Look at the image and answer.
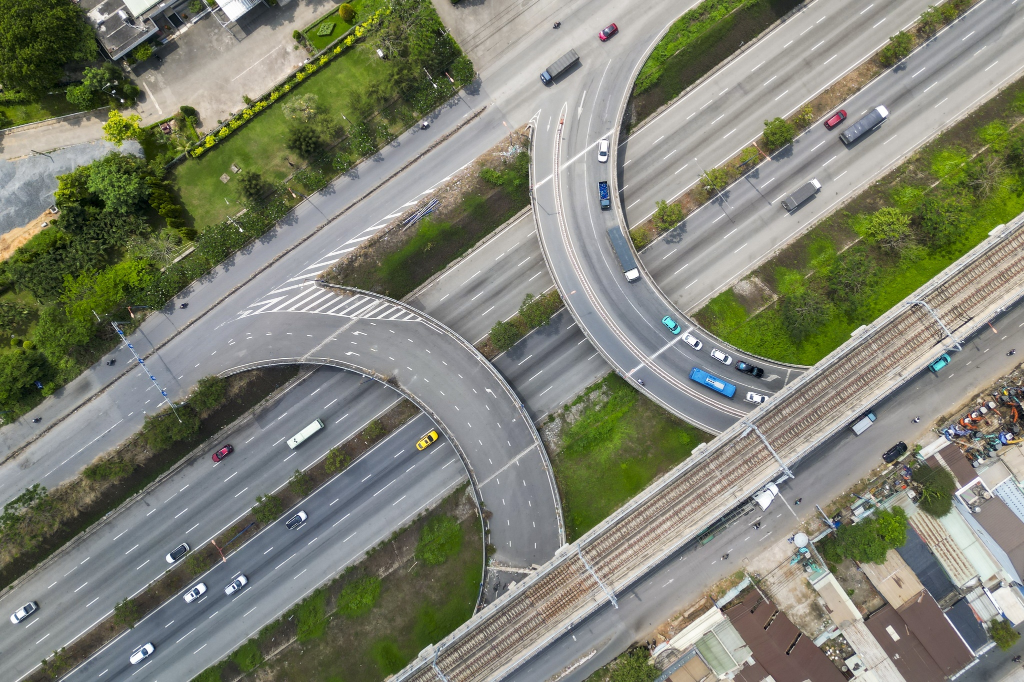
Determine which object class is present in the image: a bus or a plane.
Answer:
bus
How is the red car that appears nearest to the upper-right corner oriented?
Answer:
at an angle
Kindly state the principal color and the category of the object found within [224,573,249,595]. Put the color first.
white car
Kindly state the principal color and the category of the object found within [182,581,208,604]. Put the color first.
white car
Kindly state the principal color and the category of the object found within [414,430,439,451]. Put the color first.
yellow car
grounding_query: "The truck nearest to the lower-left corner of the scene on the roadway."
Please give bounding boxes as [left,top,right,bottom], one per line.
[11,601,39,622]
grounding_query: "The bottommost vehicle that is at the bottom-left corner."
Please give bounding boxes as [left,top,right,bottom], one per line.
[130,642,156,664]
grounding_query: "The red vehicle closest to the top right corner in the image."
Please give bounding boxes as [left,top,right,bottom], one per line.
[822,109,847,129]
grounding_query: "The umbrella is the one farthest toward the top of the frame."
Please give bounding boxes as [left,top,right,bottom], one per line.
[792,531,809,547]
